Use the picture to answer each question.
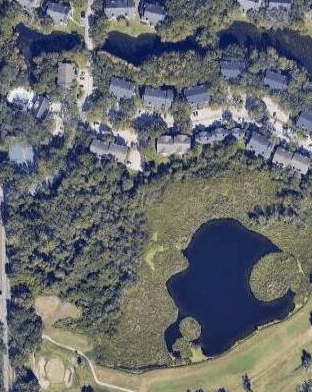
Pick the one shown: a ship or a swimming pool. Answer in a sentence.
I can see a swimming pool in this picture.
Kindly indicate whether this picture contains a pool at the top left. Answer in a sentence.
Yes, you'll find a pool at the top left.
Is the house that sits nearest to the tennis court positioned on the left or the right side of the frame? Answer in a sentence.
The house that sits nearest to the tennis court is on the left side of the image.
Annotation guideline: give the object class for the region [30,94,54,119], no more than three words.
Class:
house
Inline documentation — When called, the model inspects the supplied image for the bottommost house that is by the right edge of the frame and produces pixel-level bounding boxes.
[271,147,312,176]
